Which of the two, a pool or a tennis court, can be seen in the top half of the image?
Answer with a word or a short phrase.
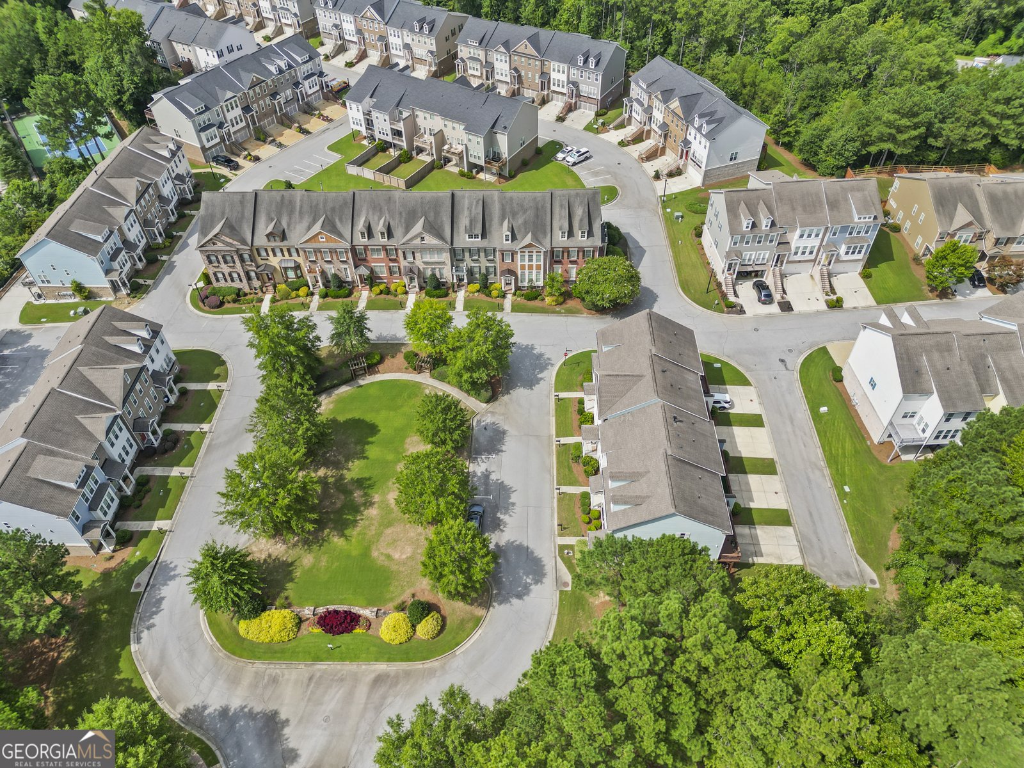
tennis court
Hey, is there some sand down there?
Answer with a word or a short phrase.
No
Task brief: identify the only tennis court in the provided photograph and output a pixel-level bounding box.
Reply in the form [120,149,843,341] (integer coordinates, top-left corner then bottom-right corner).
[13,109,123,182]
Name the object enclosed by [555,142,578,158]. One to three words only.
car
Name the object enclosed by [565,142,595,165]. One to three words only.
car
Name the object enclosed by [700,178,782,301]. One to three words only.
house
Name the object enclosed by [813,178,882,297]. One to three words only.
house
